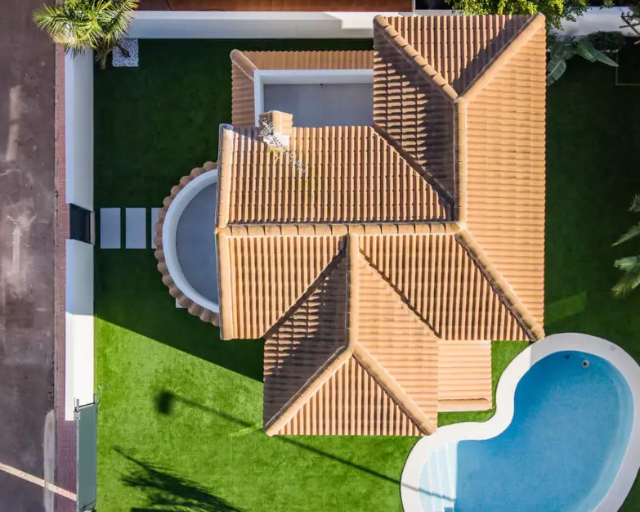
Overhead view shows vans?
No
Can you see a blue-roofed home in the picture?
No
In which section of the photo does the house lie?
center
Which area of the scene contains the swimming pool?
bottom right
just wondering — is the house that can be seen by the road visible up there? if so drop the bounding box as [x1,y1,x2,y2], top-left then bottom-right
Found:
[152,9,553,443]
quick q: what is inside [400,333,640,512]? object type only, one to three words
swimming pool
